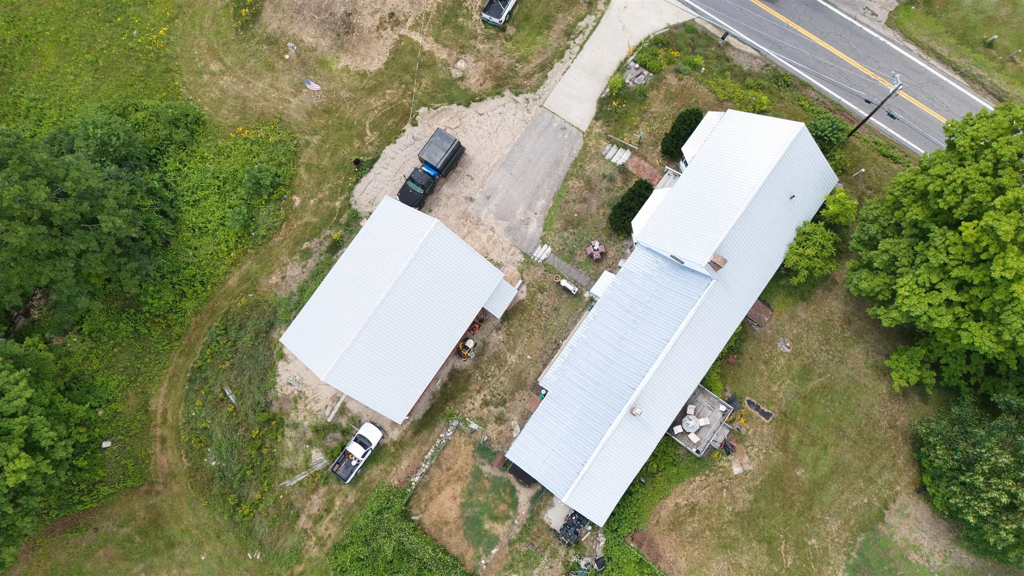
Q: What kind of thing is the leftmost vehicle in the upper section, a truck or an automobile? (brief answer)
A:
truck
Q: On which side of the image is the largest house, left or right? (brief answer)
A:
right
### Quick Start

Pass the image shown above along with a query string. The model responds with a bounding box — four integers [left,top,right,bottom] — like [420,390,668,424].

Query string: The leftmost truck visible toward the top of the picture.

[399,128,463,210]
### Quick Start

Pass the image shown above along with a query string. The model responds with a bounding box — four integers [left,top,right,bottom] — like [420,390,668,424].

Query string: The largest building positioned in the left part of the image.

[280,196,519,425]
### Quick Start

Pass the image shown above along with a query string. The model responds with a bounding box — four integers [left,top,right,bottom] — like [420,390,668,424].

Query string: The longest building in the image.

[505,110,838,528]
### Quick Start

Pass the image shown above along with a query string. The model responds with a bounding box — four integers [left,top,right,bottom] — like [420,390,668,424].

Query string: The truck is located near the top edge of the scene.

[483,0,513,26]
